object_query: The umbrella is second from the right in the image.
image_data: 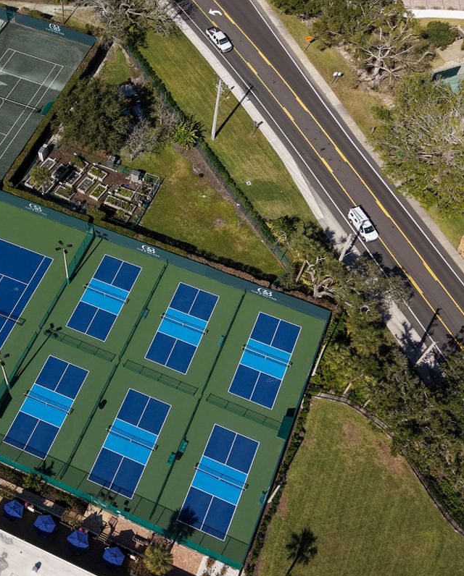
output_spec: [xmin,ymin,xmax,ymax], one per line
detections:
[67,528,91,554]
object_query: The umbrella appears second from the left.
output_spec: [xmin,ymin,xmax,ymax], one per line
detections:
[34,514,58,538]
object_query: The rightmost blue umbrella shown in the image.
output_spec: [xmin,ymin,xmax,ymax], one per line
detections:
[102,545,127,570]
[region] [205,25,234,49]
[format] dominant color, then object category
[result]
white truck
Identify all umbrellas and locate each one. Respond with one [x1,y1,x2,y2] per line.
[67,528,91,554]
[102,545,127,570]
[2,500,26,524]
[34,514,58,538]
